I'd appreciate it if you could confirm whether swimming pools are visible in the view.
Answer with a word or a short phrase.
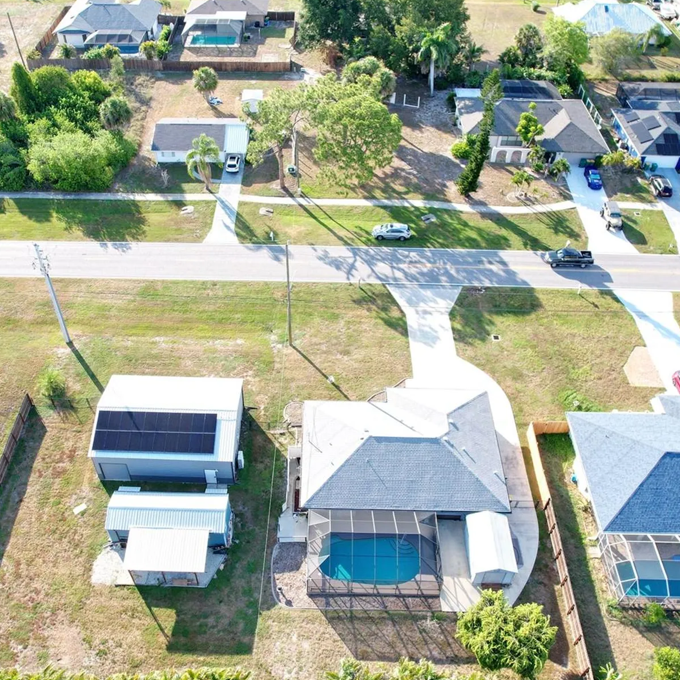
Yes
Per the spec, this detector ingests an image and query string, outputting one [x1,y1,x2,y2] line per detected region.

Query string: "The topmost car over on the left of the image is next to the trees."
[224,154,241,177]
